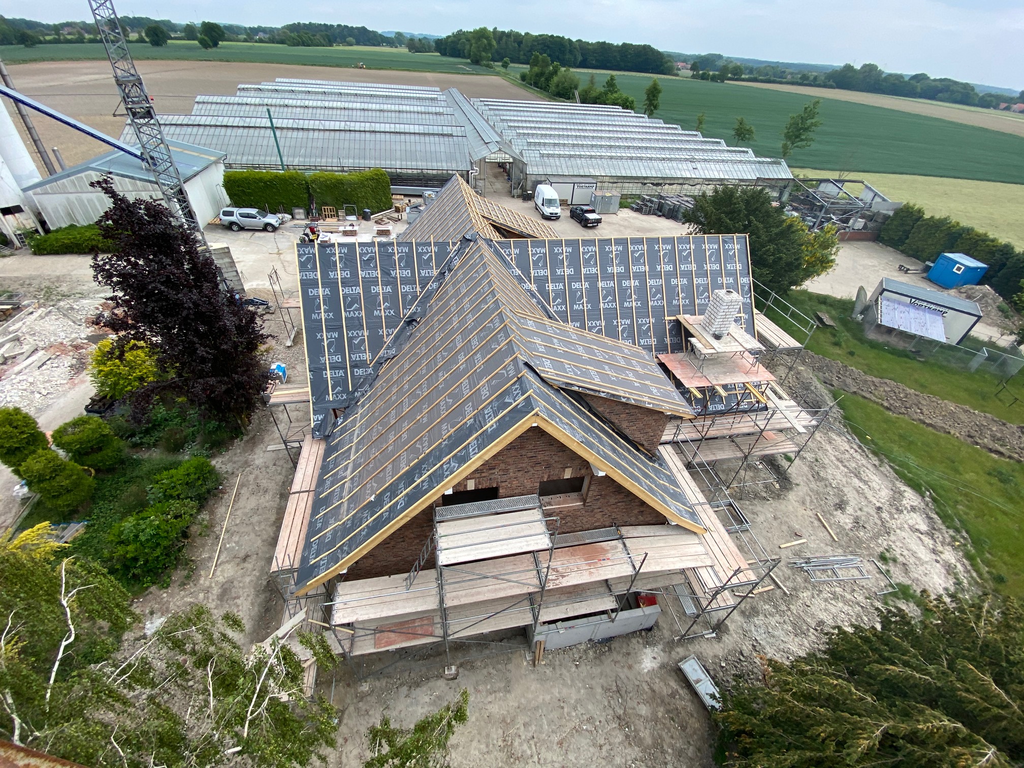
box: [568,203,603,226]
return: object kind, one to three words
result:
truck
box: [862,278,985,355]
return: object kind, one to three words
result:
shipping container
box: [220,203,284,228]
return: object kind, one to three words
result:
truck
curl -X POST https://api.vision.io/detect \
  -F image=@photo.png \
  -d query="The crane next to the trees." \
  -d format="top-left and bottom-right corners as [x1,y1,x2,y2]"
[86,0,261,296]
